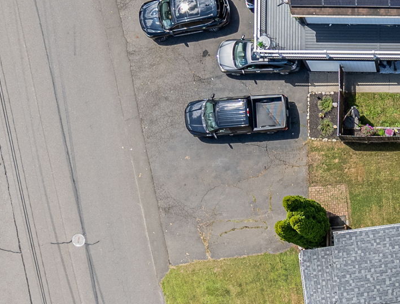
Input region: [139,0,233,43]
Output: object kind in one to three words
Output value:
car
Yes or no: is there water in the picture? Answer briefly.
No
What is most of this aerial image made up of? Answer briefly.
paved ground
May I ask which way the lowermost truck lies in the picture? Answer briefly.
horizontally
